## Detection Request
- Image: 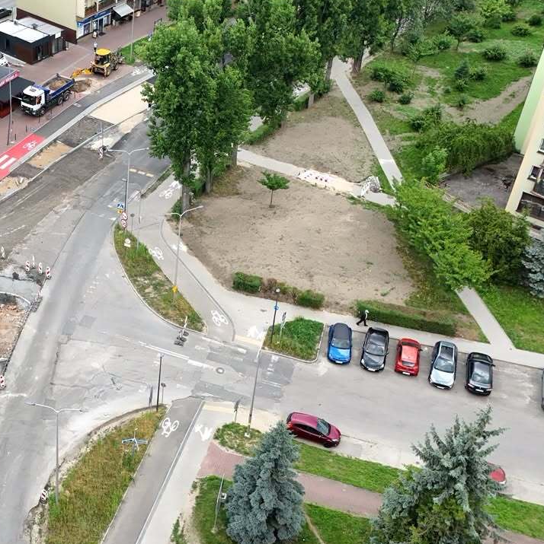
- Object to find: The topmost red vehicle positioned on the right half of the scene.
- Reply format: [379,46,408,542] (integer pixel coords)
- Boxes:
[395,336,426,376]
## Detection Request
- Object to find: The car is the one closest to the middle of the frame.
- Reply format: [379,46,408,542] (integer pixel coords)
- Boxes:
[327,320,355,363]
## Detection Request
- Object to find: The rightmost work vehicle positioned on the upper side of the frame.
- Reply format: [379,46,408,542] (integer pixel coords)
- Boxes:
[70,45,130,80]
